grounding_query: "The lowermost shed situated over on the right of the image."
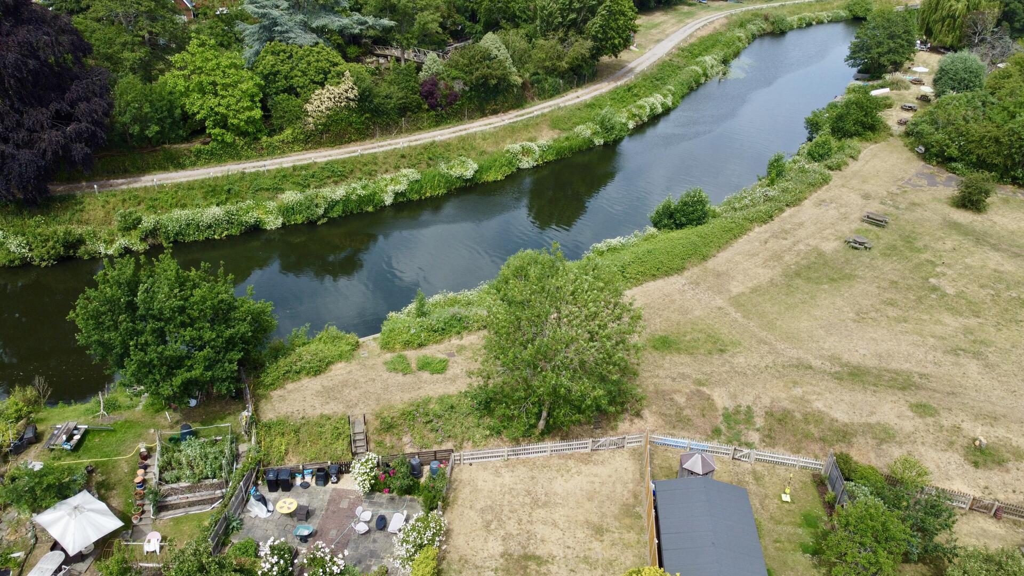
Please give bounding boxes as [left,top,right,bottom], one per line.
[652,474,771,576]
